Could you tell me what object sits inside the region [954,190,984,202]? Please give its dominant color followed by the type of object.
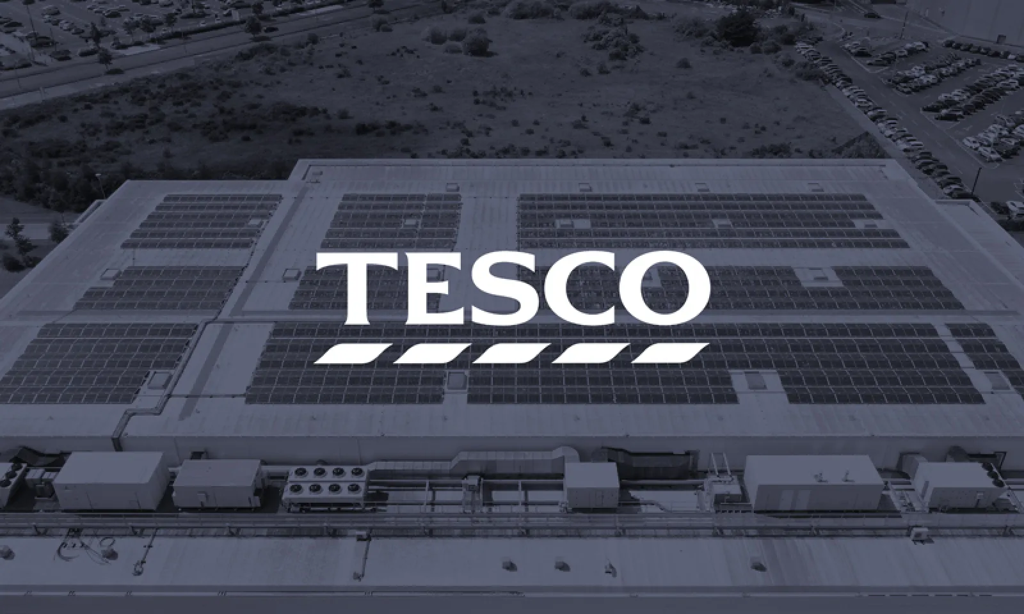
black vehicle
